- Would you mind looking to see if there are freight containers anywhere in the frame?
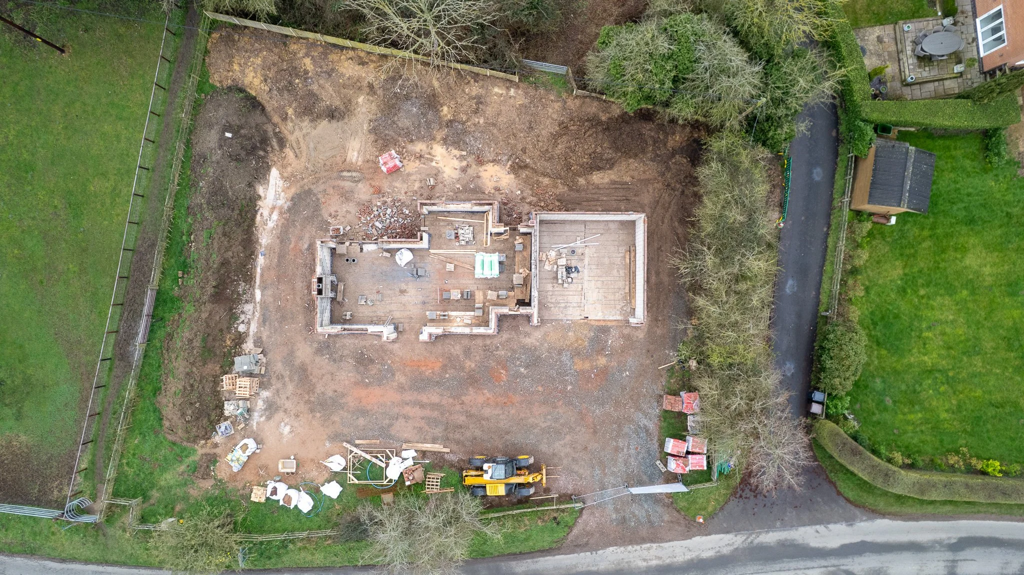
No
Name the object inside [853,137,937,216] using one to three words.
shed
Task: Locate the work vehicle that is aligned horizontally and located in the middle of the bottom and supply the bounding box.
[461,454,557,500]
